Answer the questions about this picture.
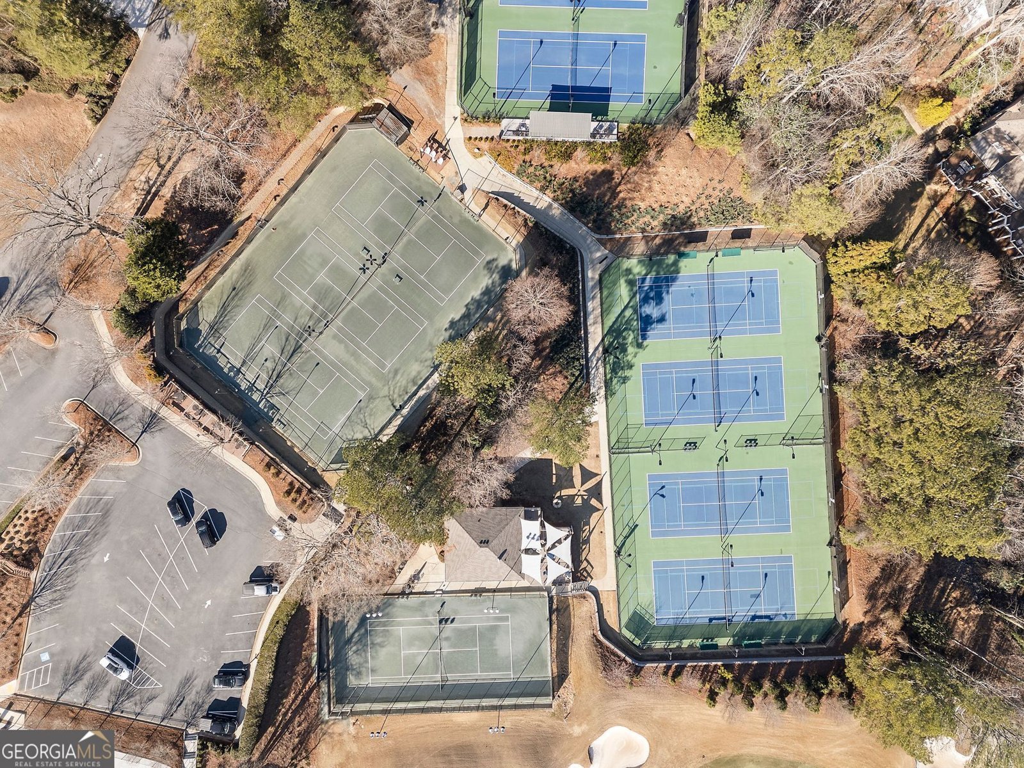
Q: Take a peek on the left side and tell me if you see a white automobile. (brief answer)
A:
Yes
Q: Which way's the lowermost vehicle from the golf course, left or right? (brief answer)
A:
to the left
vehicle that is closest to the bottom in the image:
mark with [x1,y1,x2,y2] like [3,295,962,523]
[198,716,238,736]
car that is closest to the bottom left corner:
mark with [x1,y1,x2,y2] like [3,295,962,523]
[99,653,131,679]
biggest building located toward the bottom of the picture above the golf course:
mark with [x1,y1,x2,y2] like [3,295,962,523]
[445,506,525,582]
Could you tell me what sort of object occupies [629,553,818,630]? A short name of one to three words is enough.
tennis court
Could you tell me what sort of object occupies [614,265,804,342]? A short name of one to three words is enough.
tennis court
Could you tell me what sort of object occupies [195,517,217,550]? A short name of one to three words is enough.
car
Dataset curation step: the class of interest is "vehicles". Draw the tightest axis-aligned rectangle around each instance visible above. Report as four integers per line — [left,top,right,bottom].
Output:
[99,653,131,679]
[213,673,246,690]
[241,581,281,597]
[166,498,190,528]
[198,716,238,736]
[195,517,217,550]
